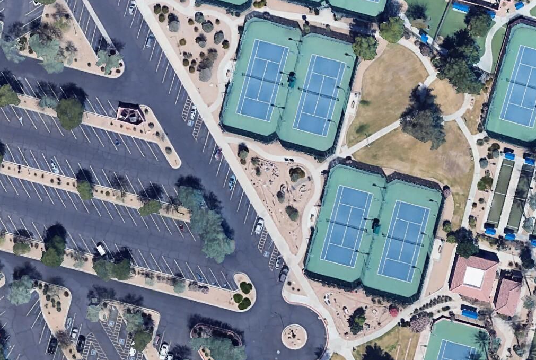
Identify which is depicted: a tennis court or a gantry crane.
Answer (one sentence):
The image shows a tennis court.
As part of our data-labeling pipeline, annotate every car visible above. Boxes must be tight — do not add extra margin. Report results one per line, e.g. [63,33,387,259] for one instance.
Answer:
[189,104,197,120]
[47,339,57,354]
[279,266,289,281]
[153,332,162,347]
[166,353,174,360]
[177,221,186,234]
[127,342,135,357]
[127,0,138,15]
[49,159,60,174]
[94,242,107,257]
[0,329,6,341]
[15,114,24,126]
[70,327,78,342]
[273,253,283,269]
[77,336,85,351]
[146,33,155,48]
[213,146,223,161]
[158,343,169,360]
[112,136,122,149]
[227,174,236,190]
[254,217,265,235]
